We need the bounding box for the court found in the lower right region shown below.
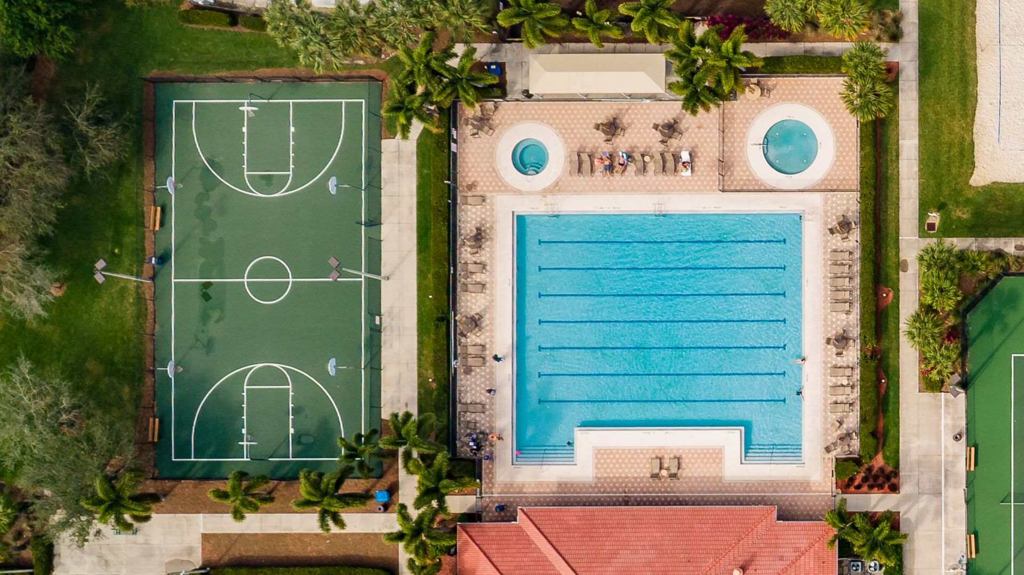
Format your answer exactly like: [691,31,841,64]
[968,277,1024,575]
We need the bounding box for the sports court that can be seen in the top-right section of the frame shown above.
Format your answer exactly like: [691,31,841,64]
[970,0,1024,186]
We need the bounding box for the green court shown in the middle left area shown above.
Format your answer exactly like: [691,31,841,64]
[154,81,382,479]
